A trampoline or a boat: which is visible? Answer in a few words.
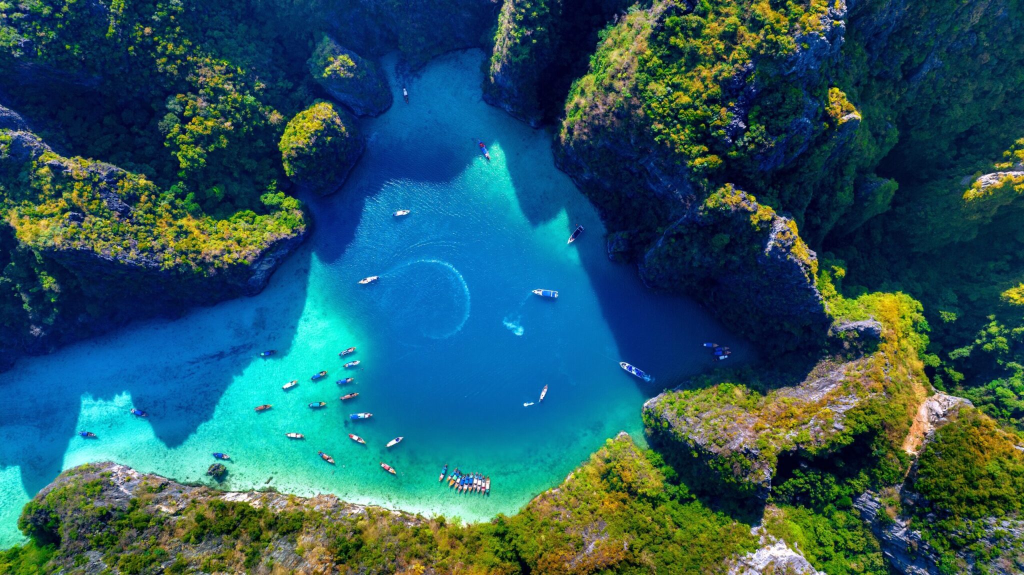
boat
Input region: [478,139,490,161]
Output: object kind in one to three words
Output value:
boat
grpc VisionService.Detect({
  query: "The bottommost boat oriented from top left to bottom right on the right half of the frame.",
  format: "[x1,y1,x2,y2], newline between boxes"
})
[620,362,650,382]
